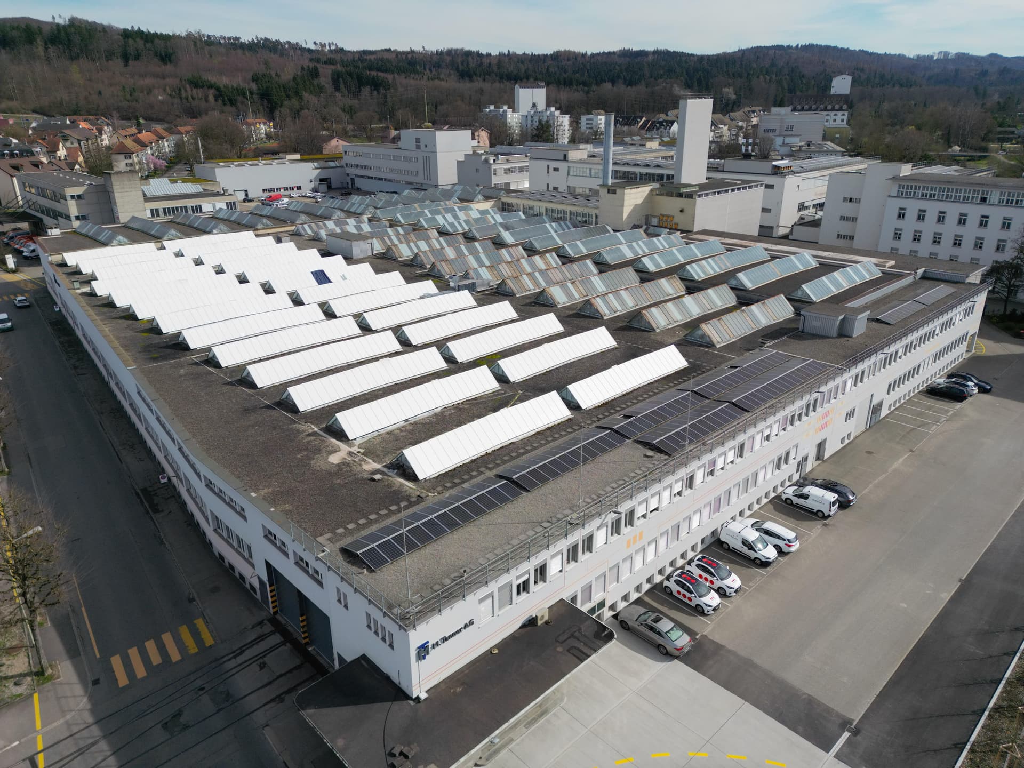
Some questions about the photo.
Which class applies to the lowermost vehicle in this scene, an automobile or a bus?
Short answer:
automobile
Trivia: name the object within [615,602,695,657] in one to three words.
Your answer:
car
